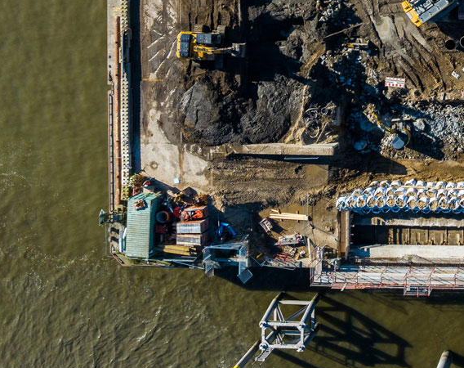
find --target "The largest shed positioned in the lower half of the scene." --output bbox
[124,191,165,258]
